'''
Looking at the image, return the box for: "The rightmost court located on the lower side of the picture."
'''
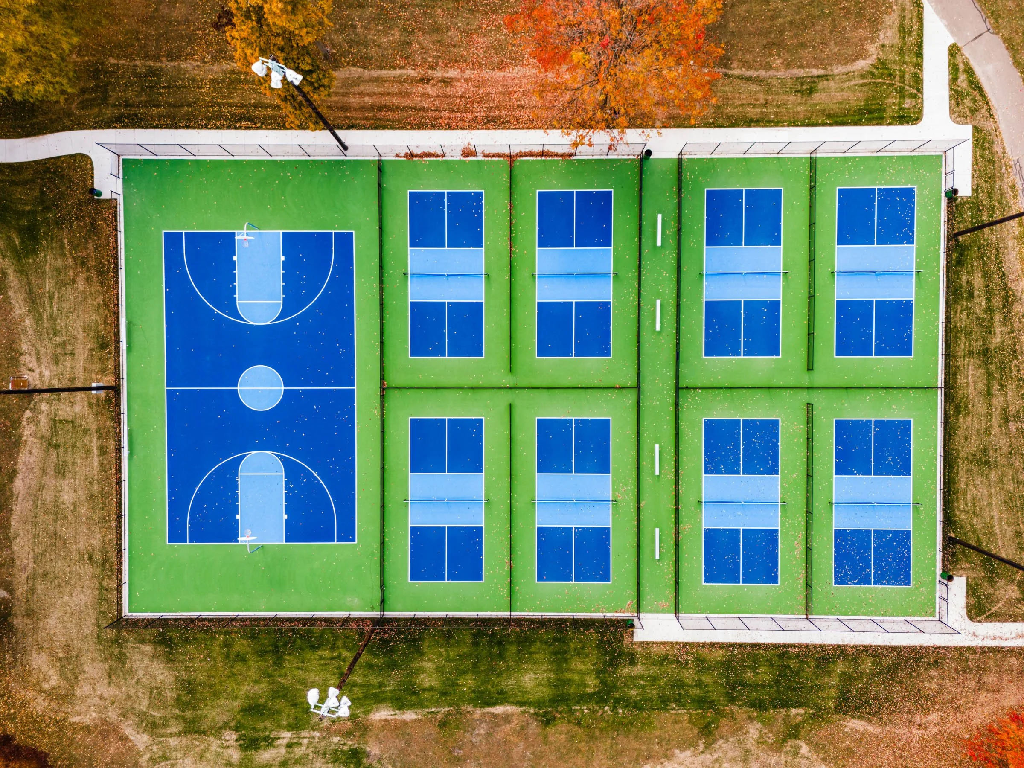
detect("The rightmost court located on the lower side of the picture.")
[833,419,913,587]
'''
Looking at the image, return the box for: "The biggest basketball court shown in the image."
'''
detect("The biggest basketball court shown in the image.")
[164,230,356,544]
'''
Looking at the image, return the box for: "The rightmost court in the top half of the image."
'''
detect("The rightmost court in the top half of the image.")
[835,186,916,357]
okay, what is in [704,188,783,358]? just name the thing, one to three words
sports court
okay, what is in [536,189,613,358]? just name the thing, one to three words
sports court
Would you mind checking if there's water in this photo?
No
